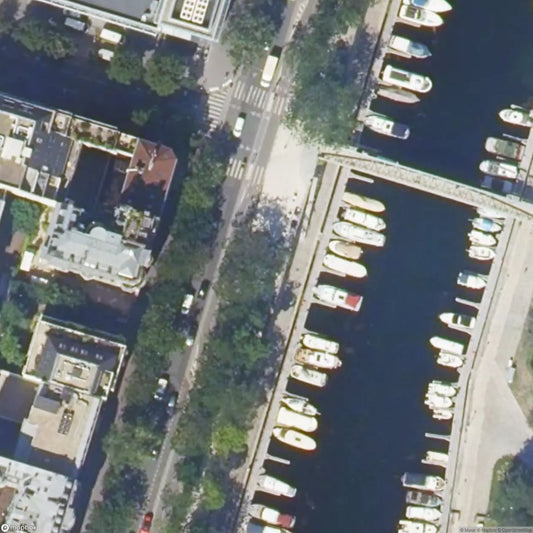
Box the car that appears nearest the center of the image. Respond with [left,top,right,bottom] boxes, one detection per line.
[198,278,212,298]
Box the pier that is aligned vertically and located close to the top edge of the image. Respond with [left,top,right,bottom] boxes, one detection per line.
[361,0,401,134]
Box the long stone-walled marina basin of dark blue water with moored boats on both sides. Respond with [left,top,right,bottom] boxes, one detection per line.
[213,0,533,533]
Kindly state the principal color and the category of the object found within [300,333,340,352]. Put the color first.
white boat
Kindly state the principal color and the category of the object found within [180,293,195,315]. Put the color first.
white vehicle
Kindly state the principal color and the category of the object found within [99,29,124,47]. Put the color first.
white vehicle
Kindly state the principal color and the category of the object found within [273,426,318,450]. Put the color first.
white boat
